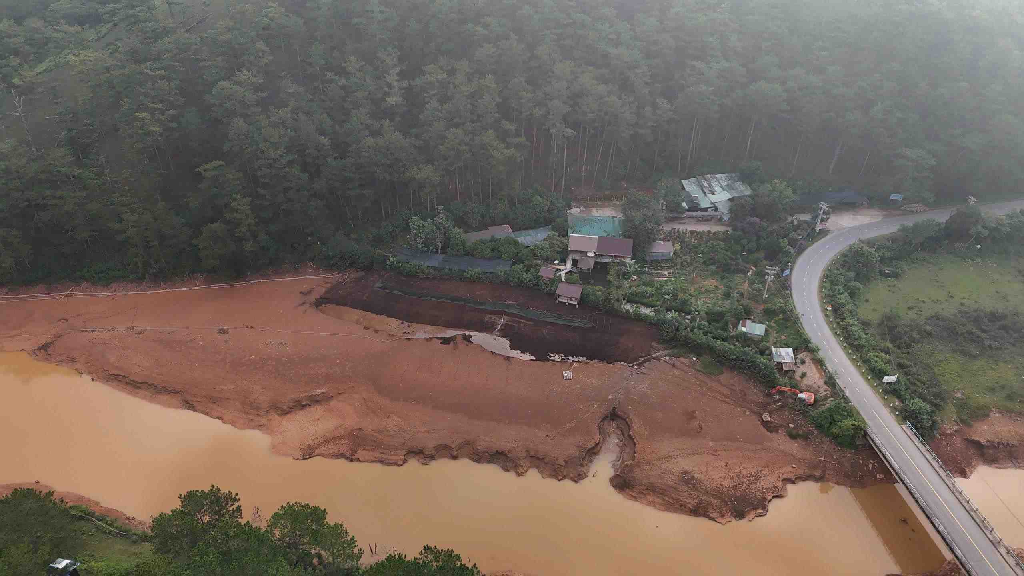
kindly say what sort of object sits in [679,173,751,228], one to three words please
shed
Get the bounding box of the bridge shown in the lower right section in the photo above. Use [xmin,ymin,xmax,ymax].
[872,410,1024,576]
